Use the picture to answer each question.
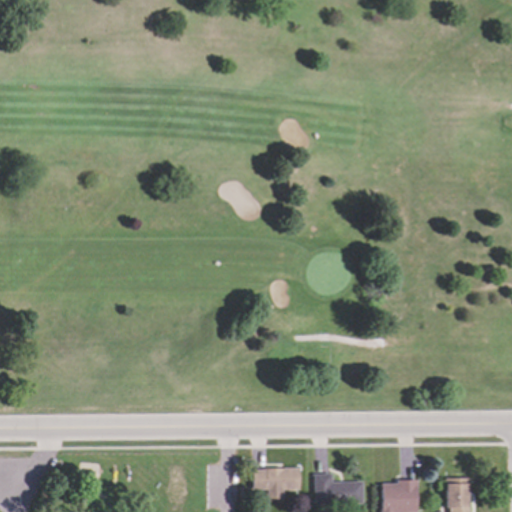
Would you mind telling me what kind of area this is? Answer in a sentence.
What you see here is a golf course.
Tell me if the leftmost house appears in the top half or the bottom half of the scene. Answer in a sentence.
The leftmost house is in the bottom half of the image.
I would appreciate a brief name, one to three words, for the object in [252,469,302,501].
house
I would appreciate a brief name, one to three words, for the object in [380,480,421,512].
house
